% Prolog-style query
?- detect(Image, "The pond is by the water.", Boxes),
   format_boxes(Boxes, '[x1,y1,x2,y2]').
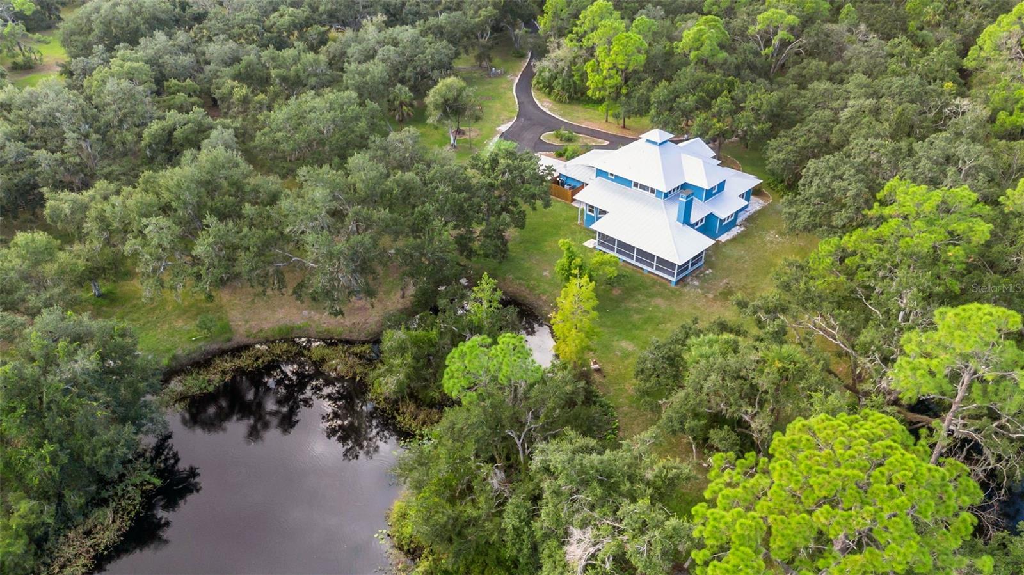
[80,290,557,575]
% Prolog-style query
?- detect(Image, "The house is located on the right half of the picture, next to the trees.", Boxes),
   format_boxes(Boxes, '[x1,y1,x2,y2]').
[525,128,763,281]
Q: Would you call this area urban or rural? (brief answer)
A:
rural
